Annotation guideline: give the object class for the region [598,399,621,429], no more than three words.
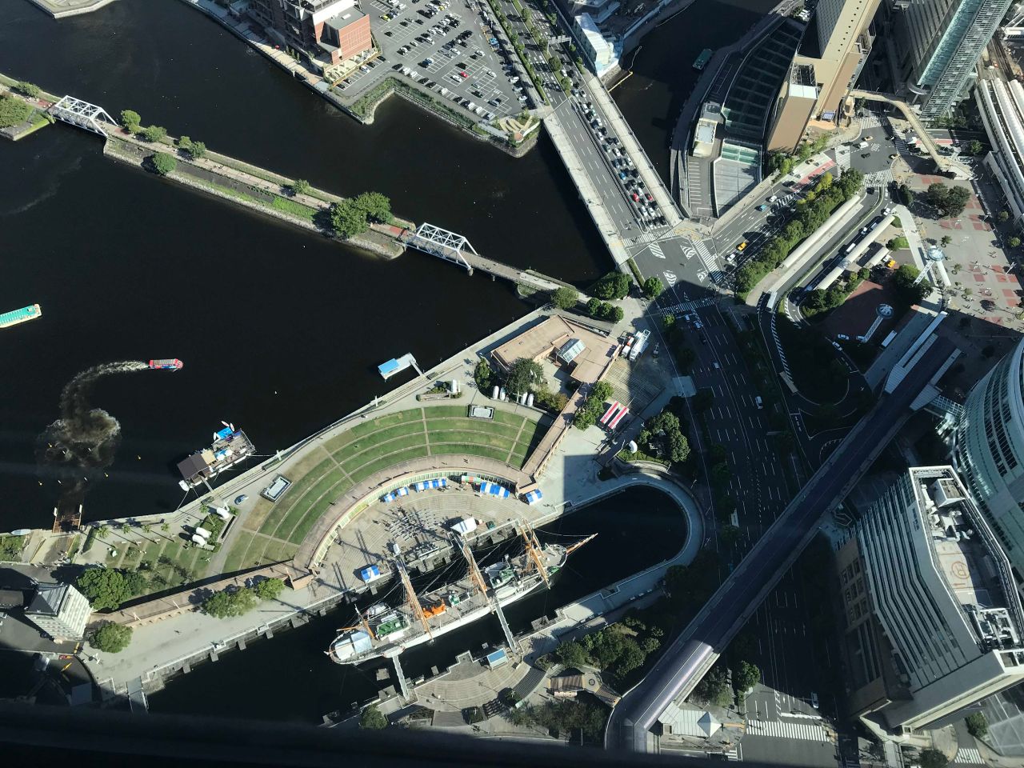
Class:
bus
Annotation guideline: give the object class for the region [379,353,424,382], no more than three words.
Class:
pier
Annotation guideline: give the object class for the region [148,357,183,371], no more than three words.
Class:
boat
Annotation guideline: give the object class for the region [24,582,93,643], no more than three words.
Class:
building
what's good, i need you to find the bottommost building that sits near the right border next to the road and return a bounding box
[813,466,1024,728]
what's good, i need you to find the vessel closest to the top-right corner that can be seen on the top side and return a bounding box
[691,47,712,71]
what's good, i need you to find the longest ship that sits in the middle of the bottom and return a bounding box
[321,510,600,669]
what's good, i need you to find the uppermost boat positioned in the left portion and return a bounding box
[0,303,43,328]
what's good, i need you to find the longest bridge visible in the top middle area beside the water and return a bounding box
[542,76,686,272]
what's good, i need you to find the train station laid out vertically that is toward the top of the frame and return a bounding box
[974,48,1024,232]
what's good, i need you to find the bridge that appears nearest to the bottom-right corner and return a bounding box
[929,397,961,440]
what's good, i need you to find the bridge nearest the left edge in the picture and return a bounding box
[49,92,117,138]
